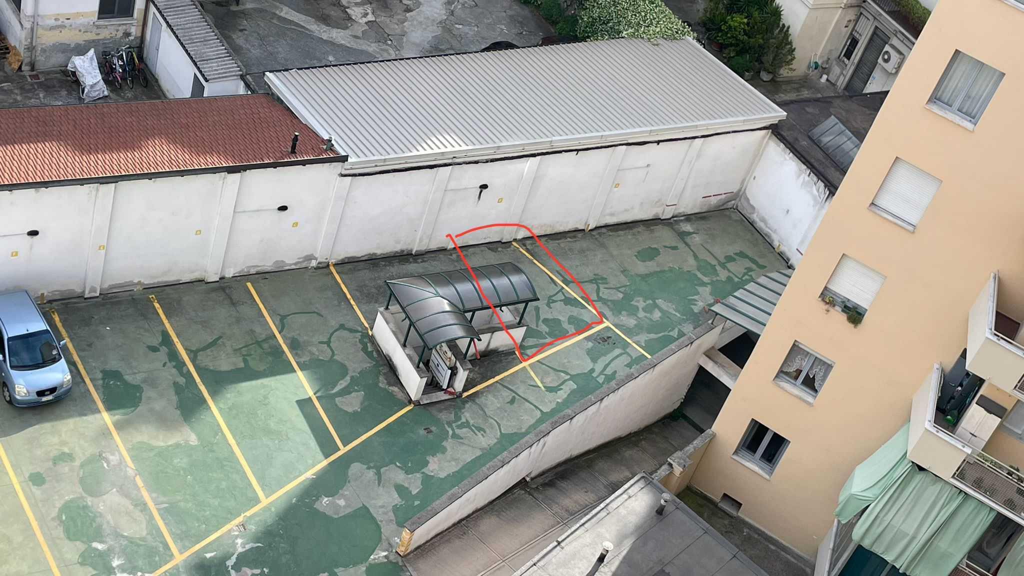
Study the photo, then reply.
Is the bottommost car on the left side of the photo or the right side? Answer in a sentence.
It is on the left.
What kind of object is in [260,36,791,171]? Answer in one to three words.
shed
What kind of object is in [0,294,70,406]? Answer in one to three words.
car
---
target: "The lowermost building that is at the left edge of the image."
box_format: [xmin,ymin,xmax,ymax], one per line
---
[0,91,349,196]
